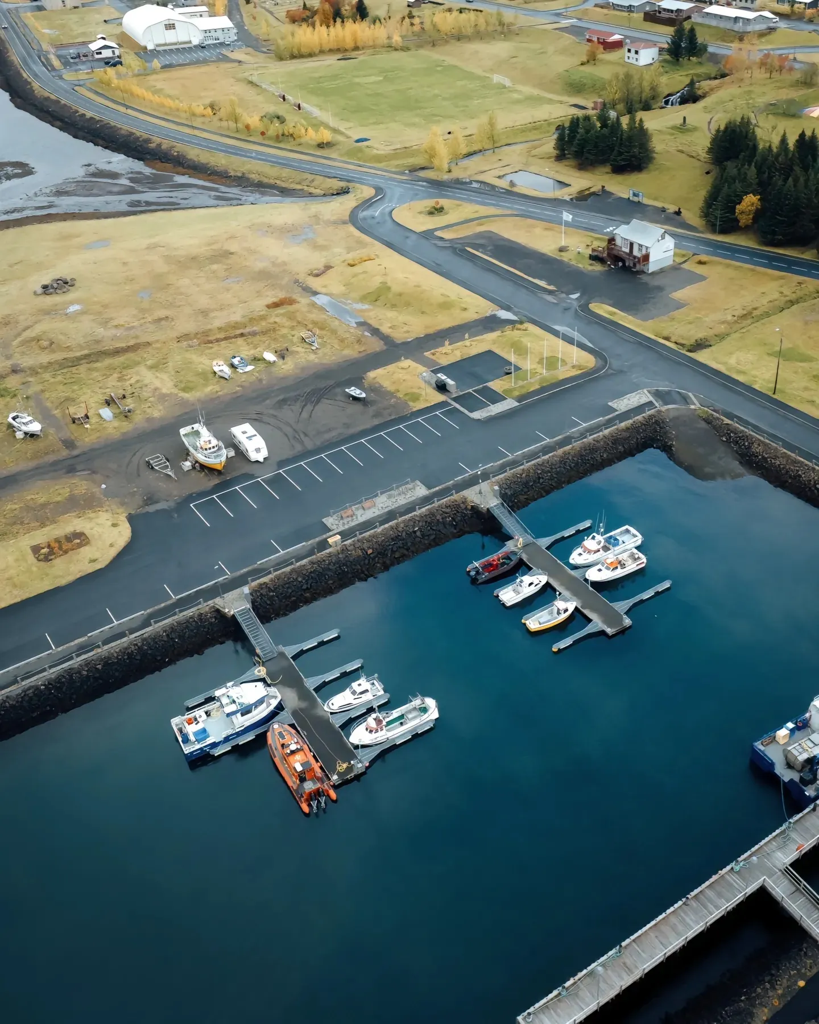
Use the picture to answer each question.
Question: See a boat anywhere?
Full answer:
Yes, there is a boat in the image.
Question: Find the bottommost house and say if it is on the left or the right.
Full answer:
The bottommost house appears in the right half of the scene.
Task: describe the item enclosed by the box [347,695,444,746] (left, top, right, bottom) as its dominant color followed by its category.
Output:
white boat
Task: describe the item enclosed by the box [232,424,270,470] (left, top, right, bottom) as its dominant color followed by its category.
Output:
white camper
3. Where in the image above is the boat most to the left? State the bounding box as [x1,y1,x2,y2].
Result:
[5,411,41,436]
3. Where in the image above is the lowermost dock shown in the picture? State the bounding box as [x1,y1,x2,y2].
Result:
[516,795,819,1024]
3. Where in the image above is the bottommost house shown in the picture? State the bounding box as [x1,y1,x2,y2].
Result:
[576,216,681,276]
